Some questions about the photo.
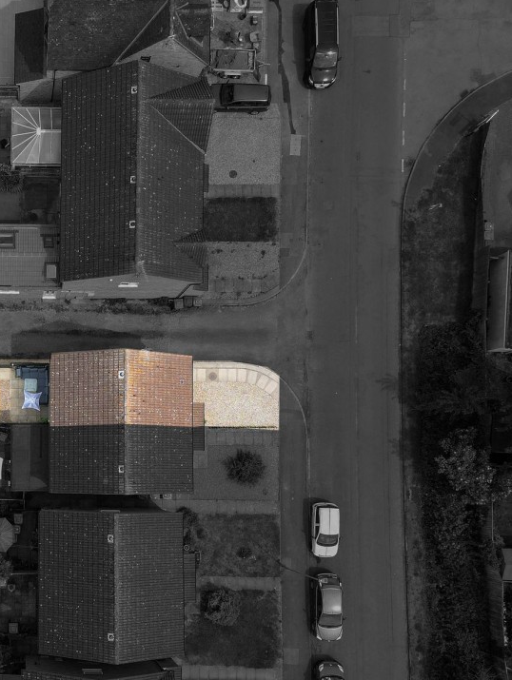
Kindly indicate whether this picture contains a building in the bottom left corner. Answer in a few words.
Yes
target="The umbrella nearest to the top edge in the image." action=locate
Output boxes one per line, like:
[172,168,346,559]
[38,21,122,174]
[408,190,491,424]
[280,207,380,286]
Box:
[21,390,41,410]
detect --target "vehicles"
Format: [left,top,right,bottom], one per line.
[302,0,342,89]
[308,501,341,558]
[212,81,273,116]
[311,658,347,680]
[310,572,345,640]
